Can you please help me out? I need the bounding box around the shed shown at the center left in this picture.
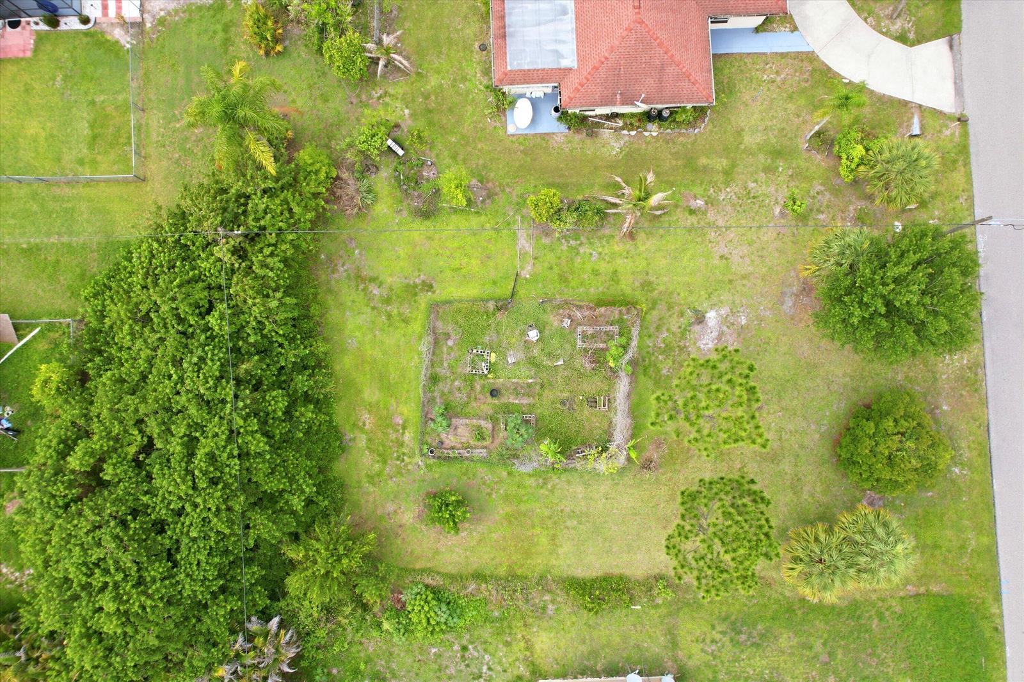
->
[0,313,29,345]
